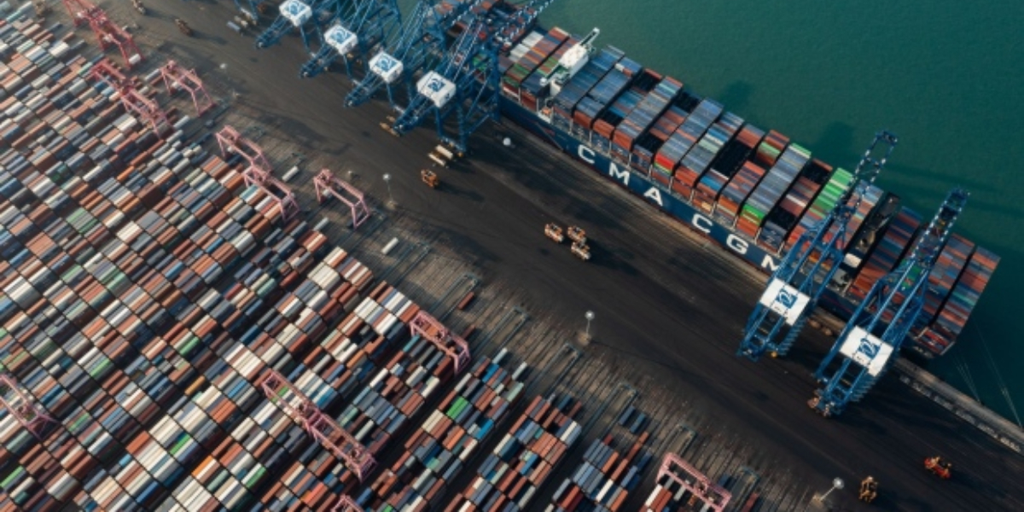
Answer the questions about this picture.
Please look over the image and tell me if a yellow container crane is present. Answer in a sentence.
No, there is no yellow container crane in the image.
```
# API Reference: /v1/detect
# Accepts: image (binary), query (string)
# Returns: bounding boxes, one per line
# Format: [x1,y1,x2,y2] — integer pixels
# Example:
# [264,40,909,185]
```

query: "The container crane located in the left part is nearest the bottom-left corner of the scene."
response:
[0,372,61,441]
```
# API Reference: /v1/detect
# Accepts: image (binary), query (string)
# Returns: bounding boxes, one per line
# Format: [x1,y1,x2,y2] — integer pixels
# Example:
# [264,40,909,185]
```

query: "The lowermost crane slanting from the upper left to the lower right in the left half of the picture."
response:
[308,411,378,483]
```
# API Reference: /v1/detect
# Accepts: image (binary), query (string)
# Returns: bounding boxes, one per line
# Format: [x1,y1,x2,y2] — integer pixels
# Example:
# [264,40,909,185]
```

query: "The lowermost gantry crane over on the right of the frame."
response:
[652,452,728,512]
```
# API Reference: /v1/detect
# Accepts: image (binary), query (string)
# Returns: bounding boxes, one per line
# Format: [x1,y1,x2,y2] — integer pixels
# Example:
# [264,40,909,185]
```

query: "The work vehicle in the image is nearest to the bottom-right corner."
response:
[927,456,957,482]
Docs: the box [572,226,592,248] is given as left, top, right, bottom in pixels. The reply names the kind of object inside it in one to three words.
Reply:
work vehicle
